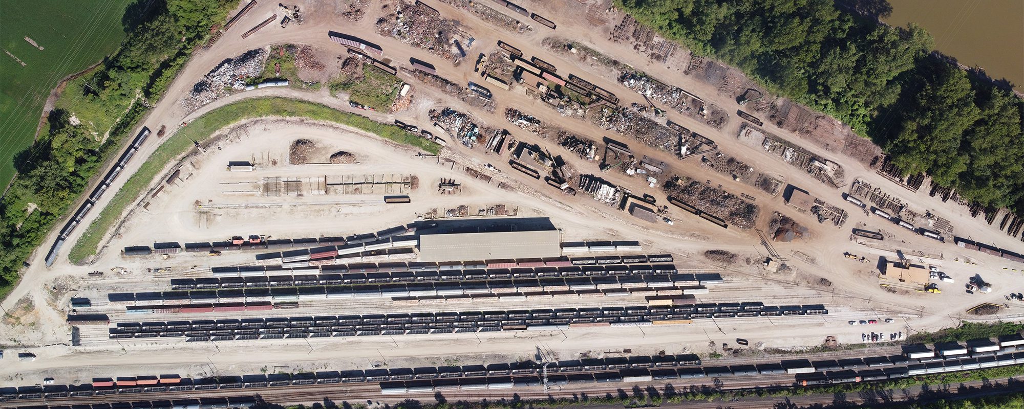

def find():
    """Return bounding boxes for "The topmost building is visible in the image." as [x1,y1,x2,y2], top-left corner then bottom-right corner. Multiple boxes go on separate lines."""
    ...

[520,70,549,93]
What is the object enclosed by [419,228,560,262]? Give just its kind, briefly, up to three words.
shed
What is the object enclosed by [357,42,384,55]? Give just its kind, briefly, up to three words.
rail car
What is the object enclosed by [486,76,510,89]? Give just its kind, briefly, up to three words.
rail car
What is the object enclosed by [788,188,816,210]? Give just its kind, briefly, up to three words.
building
